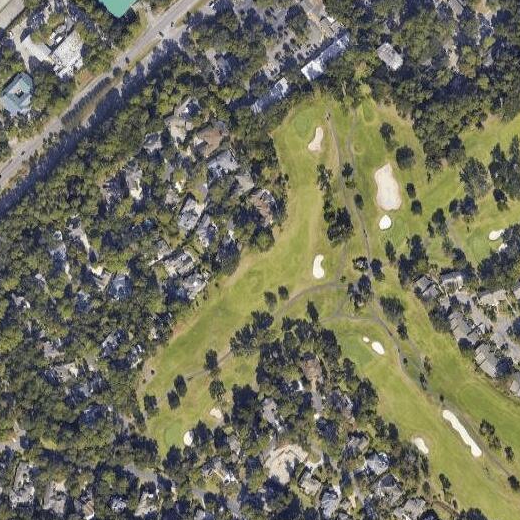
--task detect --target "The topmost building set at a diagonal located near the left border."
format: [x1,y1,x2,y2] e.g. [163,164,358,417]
[0,0,26,31]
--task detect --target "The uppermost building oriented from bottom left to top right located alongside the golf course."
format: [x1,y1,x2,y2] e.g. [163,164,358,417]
[302,34,352,80]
